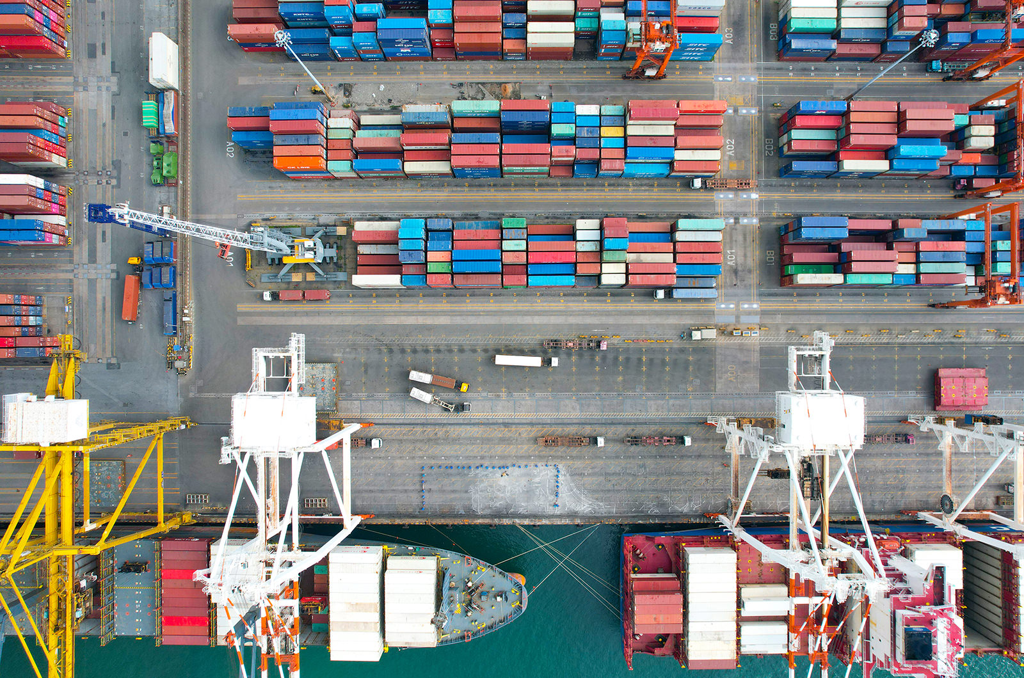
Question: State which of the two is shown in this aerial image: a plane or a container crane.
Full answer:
Visible in the photo is a container crane.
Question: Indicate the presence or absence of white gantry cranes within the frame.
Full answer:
Yes, there's a white gantry crane here.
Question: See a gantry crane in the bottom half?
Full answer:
Yes, you'll find a gantry crane in the bottom half.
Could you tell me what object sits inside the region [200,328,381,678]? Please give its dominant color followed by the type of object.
white container crane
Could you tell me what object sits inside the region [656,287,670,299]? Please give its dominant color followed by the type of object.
white vehicle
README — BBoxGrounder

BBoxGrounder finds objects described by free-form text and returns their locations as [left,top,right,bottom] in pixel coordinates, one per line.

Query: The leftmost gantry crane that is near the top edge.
[625,0,682,81]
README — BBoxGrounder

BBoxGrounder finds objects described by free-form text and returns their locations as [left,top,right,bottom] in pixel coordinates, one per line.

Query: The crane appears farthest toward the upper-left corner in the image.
[112,202,338,278]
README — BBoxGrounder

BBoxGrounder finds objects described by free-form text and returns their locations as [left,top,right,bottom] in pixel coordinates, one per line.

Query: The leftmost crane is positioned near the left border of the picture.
[0,335,203,678]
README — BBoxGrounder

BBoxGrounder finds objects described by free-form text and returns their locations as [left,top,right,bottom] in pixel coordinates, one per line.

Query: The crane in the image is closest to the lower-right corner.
[900,418,1024,562]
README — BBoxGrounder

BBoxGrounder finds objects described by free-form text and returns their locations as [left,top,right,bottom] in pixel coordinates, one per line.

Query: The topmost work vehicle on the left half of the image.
[308,82,325,94]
